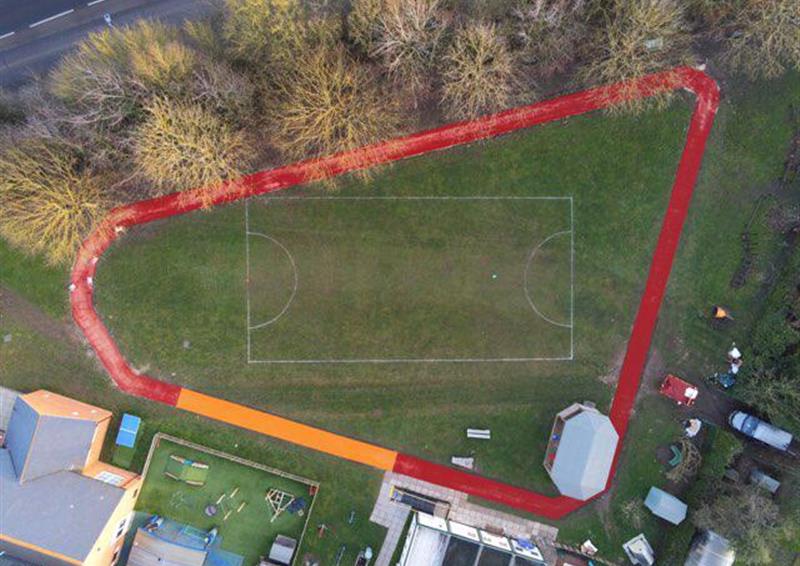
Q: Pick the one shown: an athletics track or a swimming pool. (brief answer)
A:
athletics track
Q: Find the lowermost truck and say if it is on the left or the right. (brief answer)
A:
right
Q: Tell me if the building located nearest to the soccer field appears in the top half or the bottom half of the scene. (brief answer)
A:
bottom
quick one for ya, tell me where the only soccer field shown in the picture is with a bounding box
[243,194,573,367]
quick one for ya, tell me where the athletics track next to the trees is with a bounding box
[69,65,720,521]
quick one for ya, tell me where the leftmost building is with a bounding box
[0,389,141,566]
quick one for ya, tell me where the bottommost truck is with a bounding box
[723,405,795,454]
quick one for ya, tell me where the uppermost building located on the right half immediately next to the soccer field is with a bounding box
[544,406,619,500]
